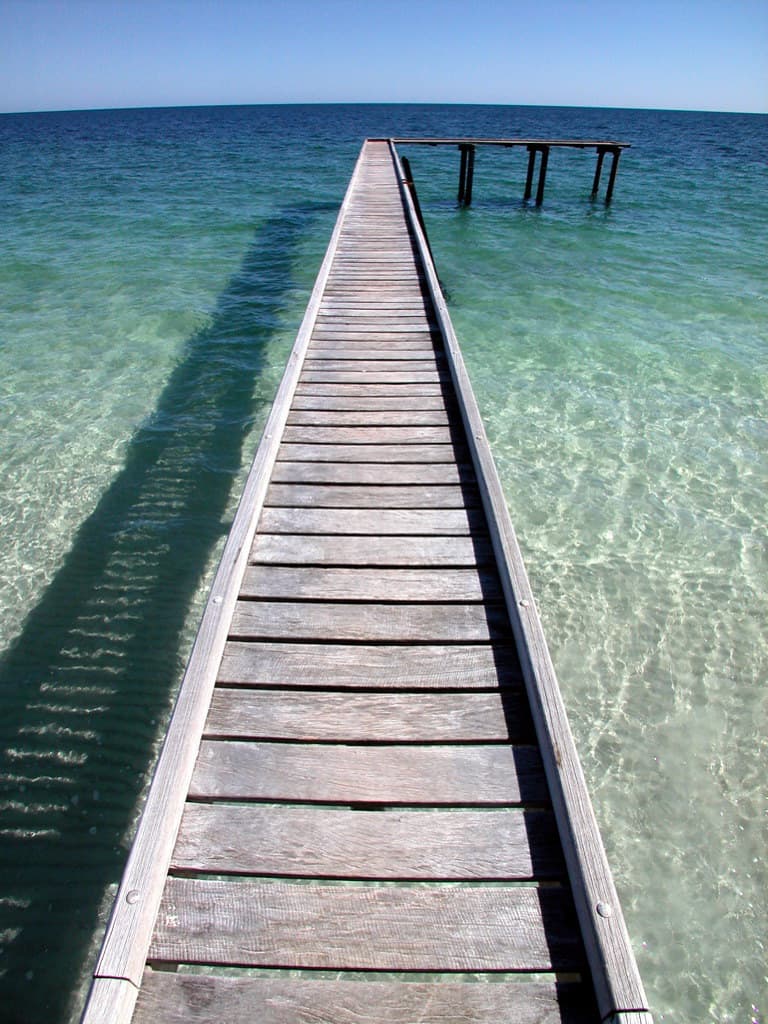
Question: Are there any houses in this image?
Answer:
No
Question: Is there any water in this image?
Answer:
Yes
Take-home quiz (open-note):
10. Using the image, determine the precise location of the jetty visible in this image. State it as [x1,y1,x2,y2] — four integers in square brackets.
[79,142,653,1024]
